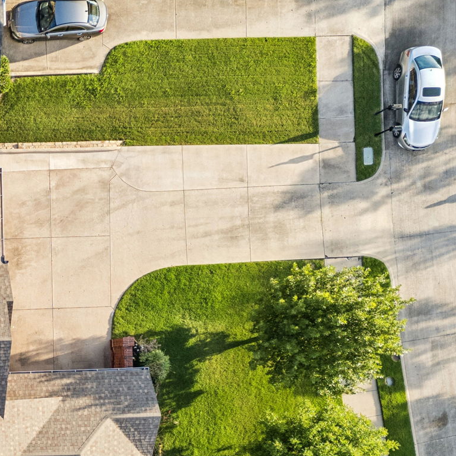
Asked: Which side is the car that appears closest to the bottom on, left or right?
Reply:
right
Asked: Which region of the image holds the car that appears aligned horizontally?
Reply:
top left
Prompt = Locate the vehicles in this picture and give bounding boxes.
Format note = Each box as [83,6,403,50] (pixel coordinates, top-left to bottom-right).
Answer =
[7,0,111,48]
[392,44,451,152]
